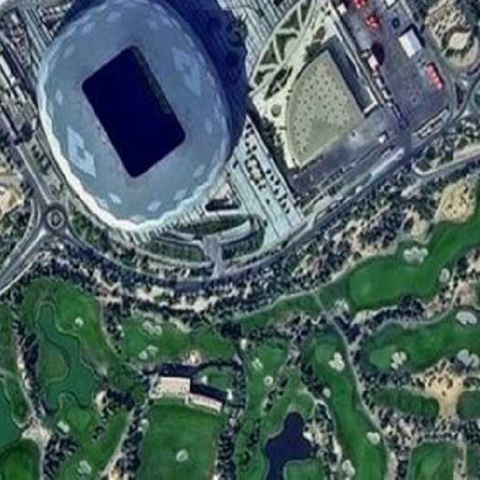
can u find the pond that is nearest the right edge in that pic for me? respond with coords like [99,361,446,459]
[266,412,315,480]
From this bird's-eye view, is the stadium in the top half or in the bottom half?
top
